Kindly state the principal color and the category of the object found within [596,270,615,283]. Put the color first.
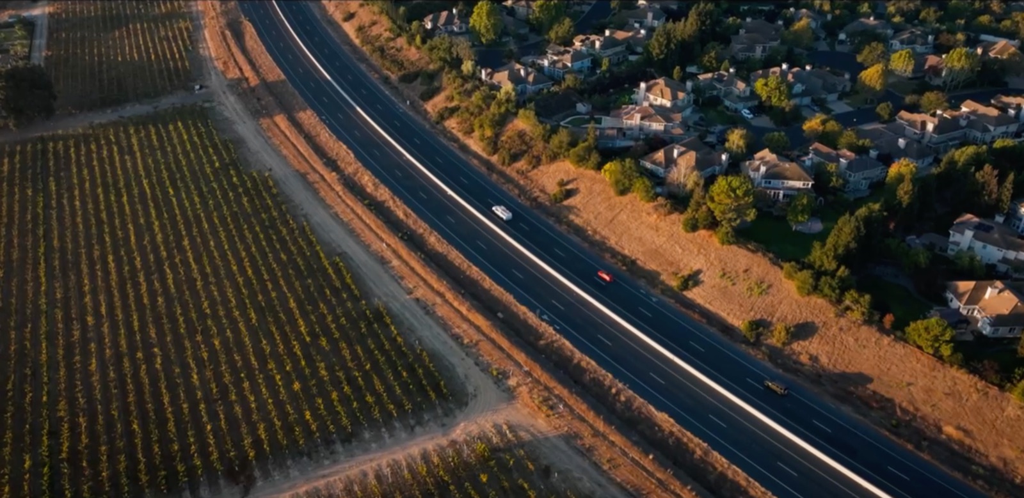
red vehicle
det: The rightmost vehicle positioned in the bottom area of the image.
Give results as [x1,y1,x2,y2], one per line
[762,379,789,398]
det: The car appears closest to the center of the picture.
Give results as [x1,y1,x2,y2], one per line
[493,207,512,221]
